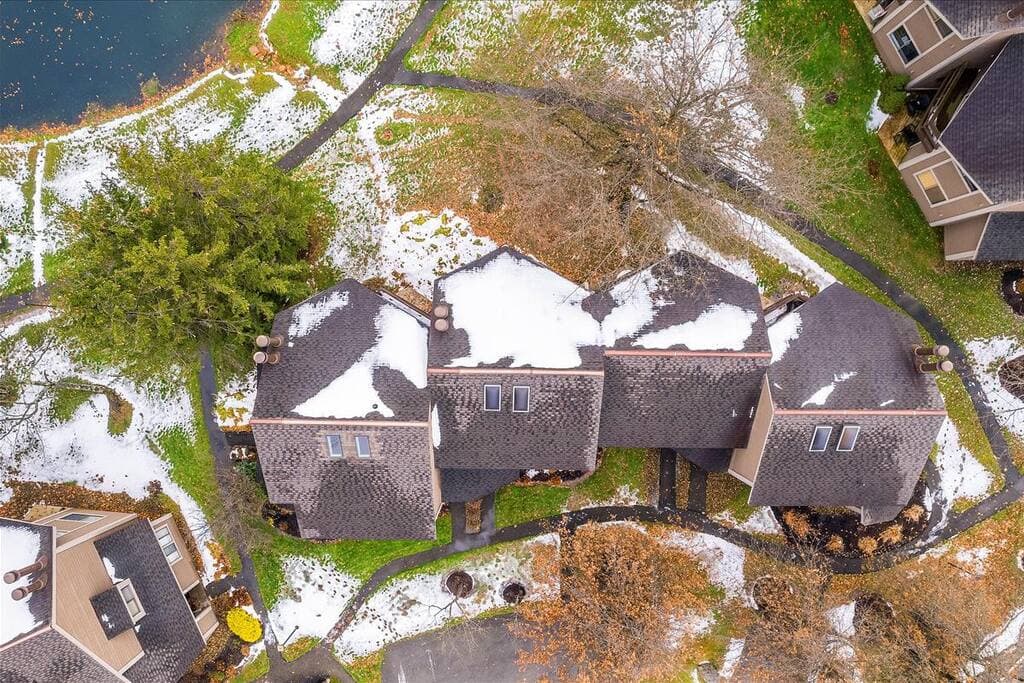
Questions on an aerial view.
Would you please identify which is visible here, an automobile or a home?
home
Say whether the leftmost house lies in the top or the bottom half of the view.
bottom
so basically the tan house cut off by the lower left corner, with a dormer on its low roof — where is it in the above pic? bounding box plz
[0,507,222,683]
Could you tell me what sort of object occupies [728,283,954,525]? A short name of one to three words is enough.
house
